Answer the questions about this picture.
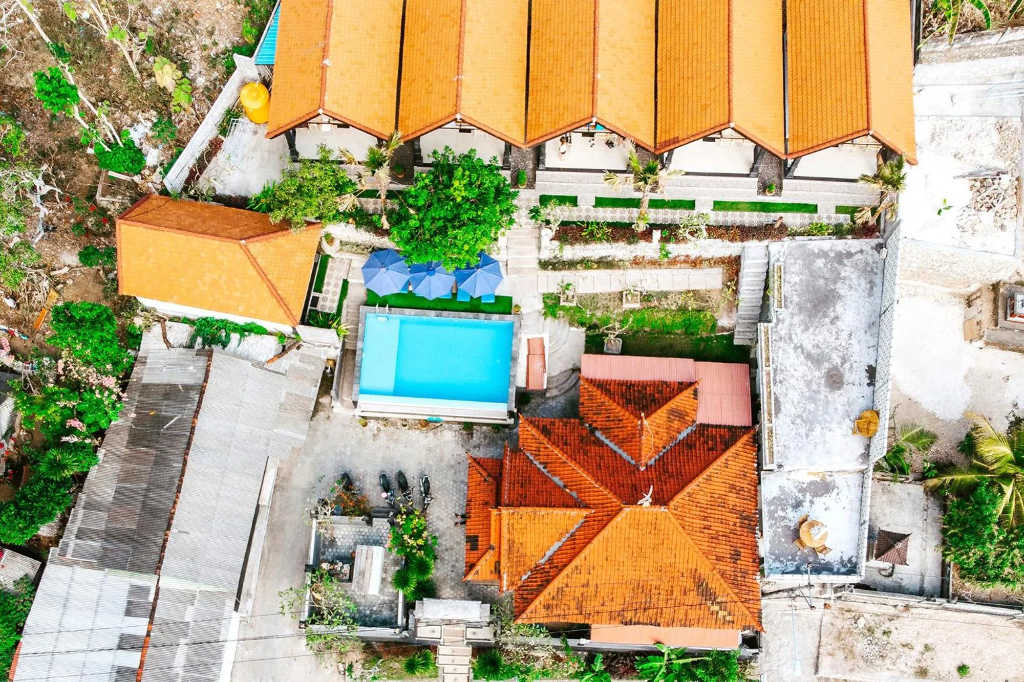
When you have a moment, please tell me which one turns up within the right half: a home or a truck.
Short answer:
home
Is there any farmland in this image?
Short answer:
No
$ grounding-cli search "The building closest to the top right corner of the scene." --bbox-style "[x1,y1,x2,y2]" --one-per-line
[783,0,919,188]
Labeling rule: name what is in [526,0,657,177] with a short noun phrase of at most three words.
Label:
house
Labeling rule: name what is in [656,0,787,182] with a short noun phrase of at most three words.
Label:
house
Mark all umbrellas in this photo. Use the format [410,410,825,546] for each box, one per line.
[455,251,503,295]
[410,256,457,299]
[362,249,410,296]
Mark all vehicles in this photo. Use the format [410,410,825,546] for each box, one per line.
[415,472,432,512]
[378,471,395,509]
[396,468,412,508]
[339,471,353,500]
